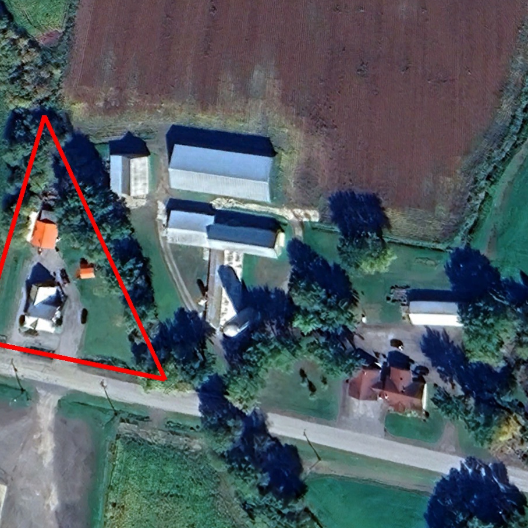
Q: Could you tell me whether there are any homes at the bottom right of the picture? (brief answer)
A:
Yes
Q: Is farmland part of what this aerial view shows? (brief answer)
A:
Yes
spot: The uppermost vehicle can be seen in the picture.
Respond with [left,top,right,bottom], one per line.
[60,268,72,285]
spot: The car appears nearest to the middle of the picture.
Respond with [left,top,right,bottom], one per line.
[389,338,405,350]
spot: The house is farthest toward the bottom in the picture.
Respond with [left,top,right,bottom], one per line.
[348,364,429,413]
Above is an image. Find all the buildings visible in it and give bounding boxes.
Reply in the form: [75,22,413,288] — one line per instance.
[168,142,278,203]
[75,266,97,279]
[110,152,151,196]
[408,300,467,326]
[31,208,61,250]
[348,364,429,413]
[166,207,283,260]
[23,279,63,334]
